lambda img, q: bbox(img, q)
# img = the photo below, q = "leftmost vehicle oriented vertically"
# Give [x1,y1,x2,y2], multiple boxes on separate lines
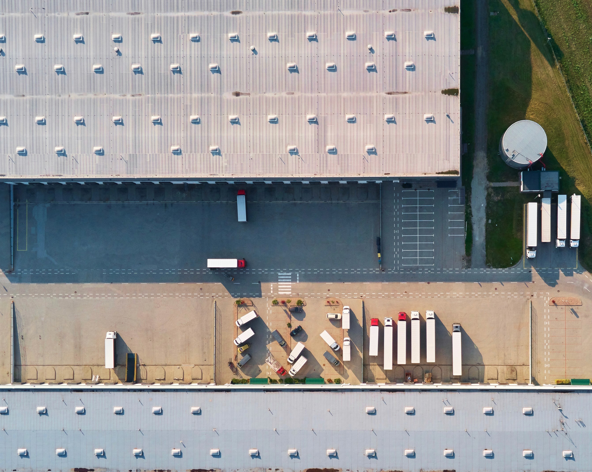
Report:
[105,330,118,368]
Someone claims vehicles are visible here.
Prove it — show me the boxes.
[236,311,258,327]
[327,313,342,319]
[324,351,340,366]
[234,327,255,346]
[343,338,351,362]
[290,325,303,336]
[410,310,420,363]
[237,353,252,367]
[272,329,287,346]
[289,355,307,375]
[105,330,118,368]
[396,311,407,364]
[426,310,435,363]
[288,342,305,364]
[265,356,287,377]
[526,202,537,258]
[383,316,393,369]
[207,259,247,268]
[342,305,350,329]
[451,322,461,376]
[555,195,566,248]
[238,343,250,353]
[369,317,378,356]
[568,195,580,249]
[237,188,248,222]
[319,330,340,351]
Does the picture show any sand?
No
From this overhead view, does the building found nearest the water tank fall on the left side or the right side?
right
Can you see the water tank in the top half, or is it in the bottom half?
top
